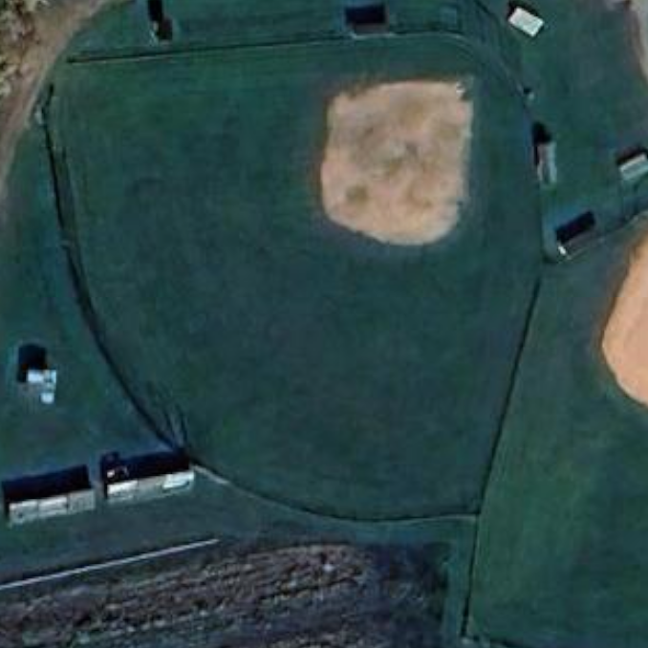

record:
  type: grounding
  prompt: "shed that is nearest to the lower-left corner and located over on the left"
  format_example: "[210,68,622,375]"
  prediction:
[4,486,96,530]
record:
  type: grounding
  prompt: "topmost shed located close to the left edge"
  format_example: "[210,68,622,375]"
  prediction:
[23,369,58,389]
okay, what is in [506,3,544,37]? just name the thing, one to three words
shed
